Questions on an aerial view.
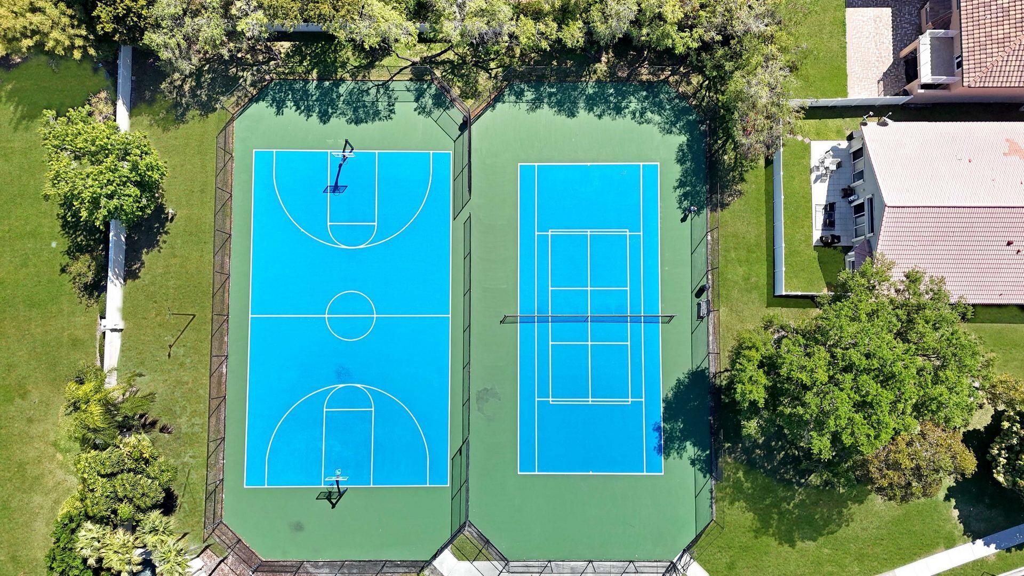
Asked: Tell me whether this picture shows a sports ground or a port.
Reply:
sports ground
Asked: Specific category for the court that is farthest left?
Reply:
basketball court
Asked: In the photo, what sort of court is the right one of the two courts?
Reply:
tennis court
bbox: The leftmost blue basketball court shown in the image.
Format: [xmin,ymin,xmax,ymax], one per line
[224,81,469,560]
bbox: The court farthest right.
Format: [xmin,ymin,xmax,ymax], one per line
[469,83,713,560]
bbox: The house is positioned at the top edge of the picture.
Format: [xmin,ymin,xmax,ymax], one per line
[898,0,1024,103]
